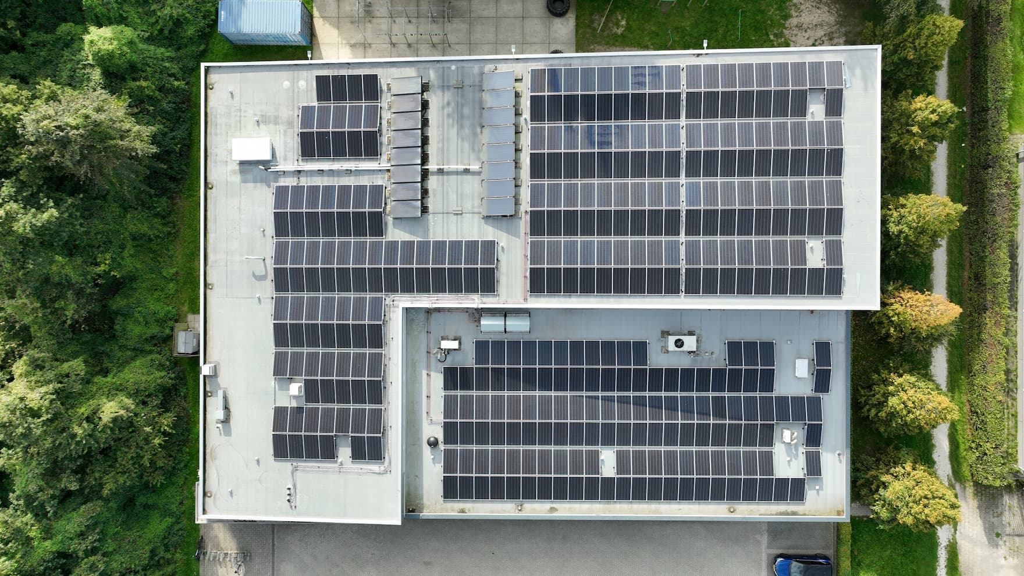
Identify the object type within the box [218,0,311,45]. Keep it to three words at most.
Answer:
shipping container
